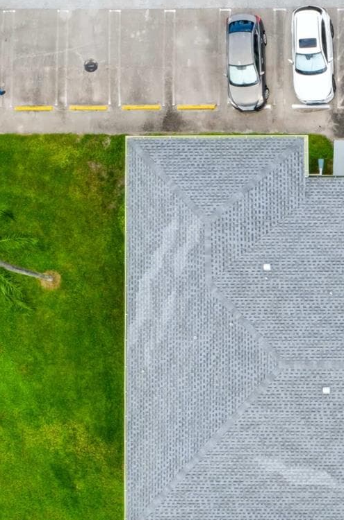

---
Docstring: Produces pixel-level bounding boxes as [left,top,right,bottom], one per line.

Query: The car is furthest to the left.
[220,13,270,115]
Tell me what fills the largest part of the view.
buildings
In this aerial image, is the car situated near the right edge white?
Yes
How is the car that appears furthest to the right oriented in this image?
from top to bottom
